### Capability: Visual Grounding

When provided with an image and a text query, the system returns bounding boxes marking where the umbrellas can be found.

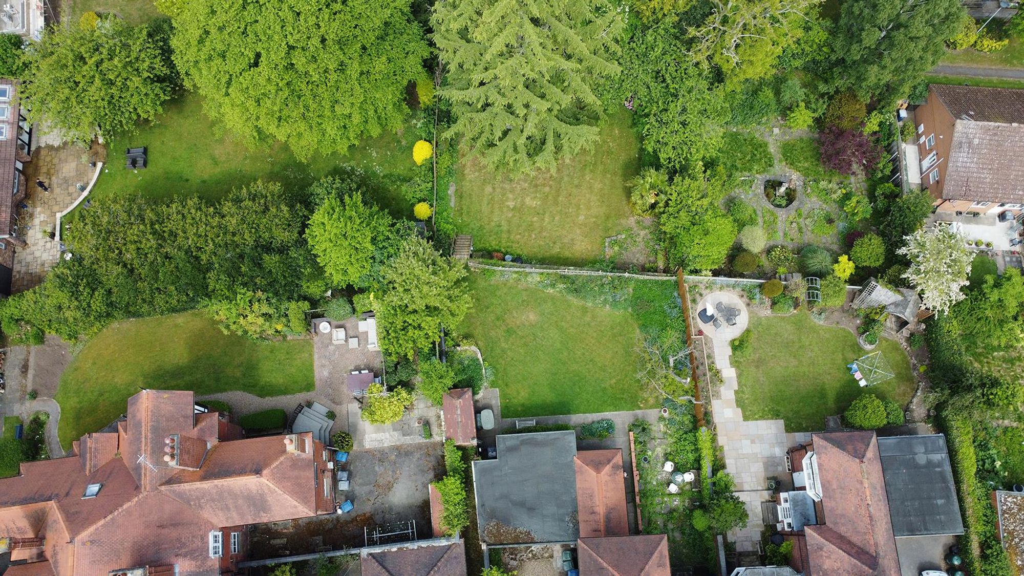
[699,304,723,324]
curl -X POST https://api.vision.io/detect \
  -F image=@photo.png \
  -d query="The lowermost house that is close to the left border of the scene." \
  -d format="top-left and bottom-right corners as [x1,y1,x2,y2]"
[0,390,333,576]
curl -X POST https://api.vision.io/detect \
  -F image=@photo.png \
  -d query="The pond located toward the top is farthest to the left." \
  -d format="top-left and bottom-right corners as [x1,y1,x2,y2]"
[755,170,806,217]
